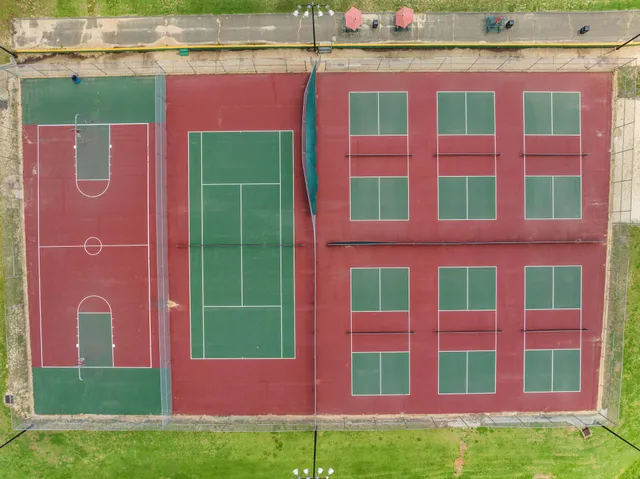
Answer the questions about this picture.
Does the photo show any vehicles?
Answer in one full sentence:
No, the scene contains no vehicle.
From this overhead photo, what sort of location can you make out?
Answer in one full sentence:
This looks like a sports ground.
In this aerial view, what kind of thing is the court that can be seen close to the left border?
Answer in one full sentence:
I'd say the court that can be seen close to the left border is a basketball court.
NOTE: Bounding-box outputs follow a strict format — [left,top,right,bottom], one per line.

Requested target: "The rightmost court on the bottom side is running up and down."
[524,266,582,393]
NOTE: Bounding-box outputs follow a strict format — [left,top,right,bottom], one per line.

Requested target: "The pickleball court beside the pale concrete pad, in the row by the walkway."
[524,91,582,219]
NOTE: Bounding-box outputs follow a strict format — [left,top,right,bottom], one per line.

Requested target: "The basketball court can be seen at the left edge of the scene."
[20,74,171,415]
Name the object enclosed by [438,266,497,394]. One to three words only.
sports court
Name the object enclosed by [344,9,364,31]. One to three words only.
umbrella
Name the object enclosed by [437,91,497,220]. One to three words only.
sports court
